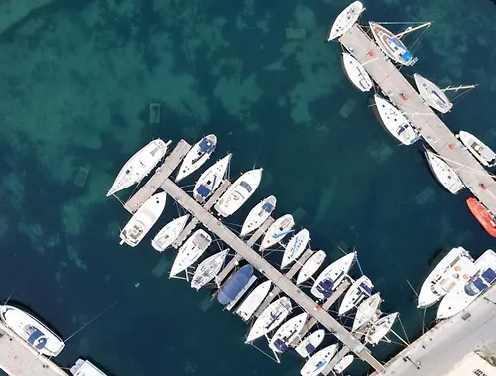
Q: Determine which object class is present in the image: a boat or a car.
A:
boat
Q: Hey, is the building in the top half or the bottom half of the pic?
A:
bottom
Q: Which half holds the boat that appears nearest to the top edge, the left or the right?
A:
right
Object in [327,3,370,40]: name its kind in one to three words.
boat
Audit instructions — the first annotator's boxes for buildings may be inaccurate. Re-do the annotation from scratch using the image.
[456,351,496,376]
